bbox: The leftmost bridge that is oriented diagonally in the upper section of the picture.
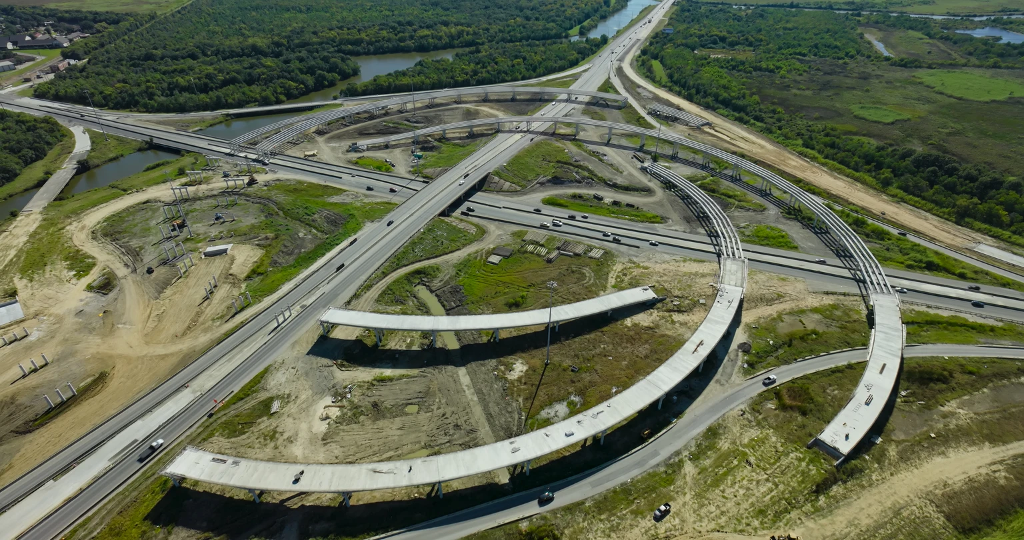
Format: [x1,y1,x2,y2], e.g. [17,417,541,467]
[15,165,79,218]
